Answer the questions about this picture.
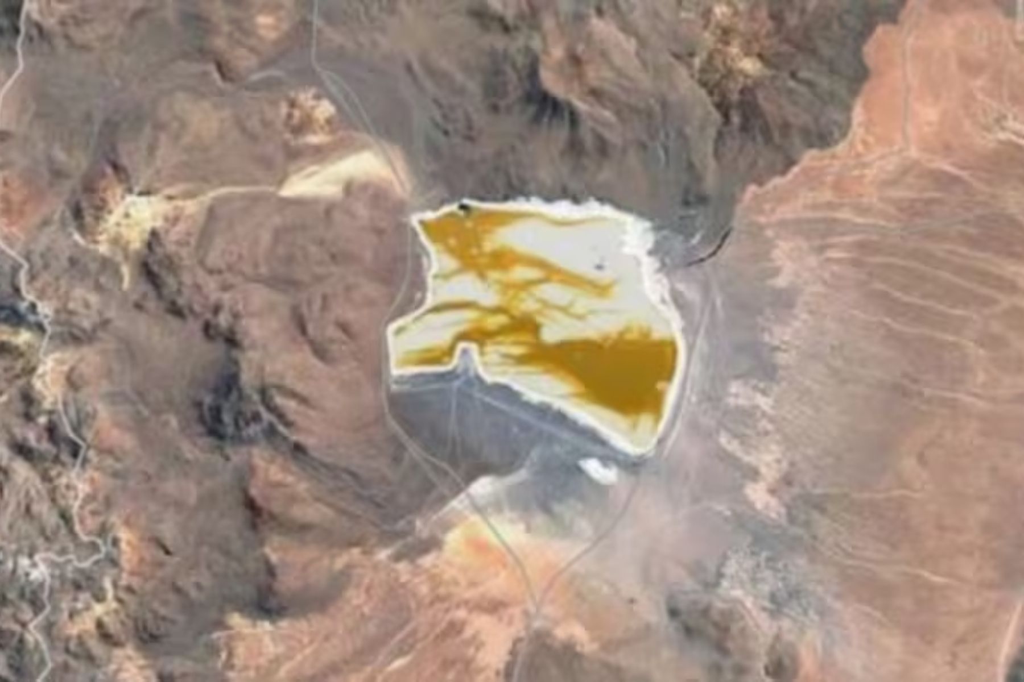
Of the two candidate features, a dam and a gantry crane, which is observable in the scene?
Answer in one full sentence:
The one in the frame is a dam.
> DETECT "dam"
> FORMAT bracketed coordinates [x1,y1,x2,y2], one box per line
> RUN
[389,346,654,481]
